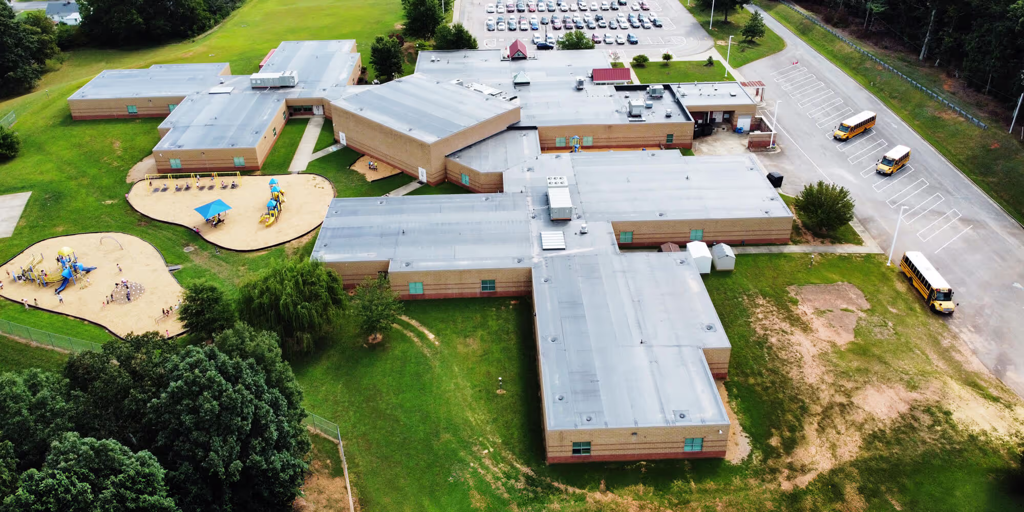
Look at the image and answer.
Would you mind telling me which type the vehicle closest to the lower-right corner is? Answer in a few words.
bus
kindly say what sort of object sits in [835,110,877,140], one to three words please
bus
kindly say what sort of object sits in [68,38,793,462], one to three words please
building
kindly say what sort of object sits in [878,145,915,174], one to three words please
bus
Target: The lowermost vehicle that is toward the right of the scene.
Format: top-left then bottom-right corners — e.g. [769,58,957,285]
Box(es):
[900,251,959,312]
